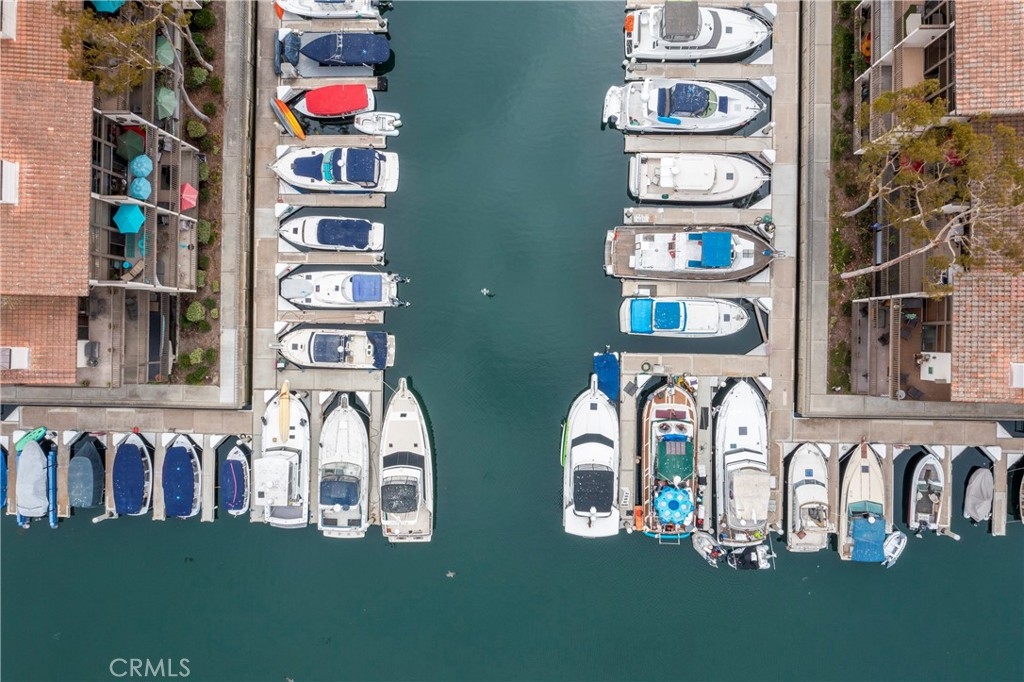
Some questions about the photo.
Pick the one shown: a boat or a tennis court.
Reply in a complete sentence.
I can see a boat in this picture.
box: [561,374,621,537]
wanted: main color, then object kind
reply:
white boat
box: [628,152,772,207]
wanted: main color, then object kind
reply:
white boat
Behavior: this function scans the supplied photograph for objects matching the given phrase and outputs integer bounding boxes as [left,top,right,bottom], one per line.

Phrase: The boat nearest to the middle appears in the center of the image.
[592,345,621,401]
